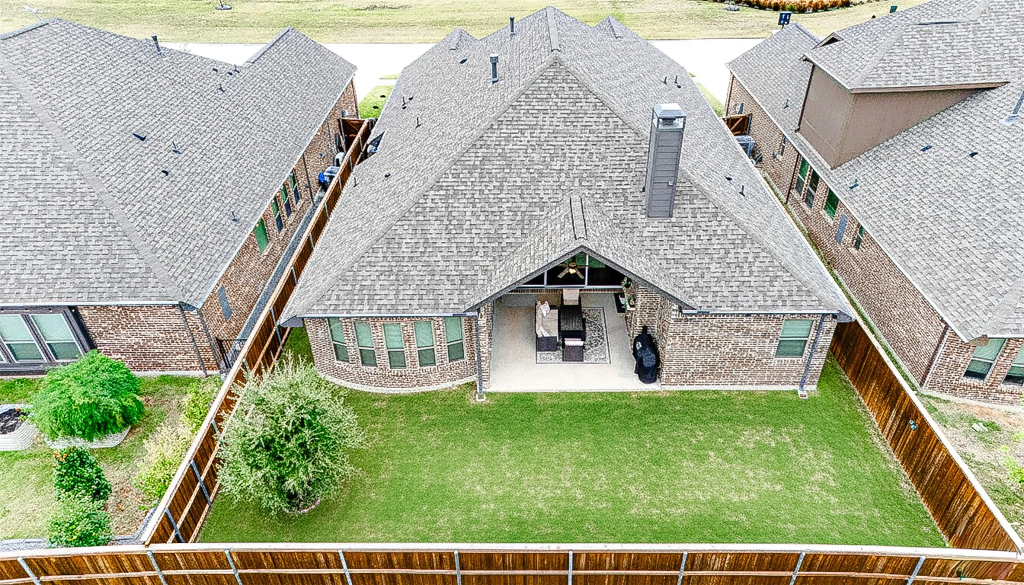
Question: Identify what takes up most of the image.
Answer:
buildings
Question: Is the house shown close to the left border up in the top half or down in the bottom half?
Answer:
top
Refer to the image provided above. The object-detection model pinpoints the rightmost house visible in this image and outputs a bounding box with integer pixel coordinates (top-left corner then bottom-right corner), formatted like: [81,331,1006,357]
[723,0,1024,416]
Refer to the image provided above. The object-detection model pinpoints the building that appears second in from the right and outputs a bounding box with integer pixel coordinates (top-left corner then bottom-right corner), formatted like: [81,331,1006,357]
[277,4,866,395]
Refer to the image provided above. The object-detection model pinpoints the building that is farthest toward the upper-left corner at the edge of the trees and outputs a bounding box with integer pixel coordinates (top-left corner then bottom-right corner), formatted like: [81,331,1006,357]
[0,15,355,379]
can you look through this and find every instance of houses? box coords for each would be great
[723,0,1024,416]
[0,15,355,379]
[277,4,866,395]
